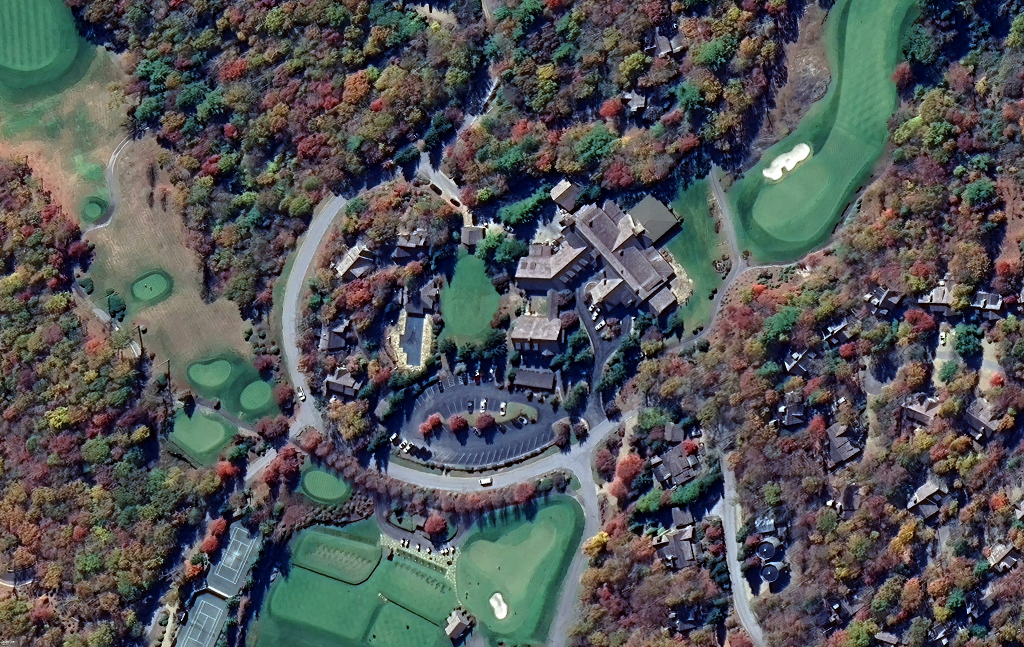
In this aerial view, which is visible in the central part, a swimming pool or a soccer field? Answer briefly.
swimming pool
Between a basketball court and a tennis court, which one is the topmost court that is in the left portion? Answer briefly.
tennis court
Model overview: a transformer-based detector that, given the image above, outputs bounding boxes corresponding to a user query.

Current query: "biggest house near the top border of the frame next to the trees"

[647,29,688,55]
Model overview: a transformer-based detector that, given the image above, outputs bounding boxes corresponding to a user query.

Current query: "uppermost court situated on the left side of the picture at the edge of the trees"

[207,520,259,597]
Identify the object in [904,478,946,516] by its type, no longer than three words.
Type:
house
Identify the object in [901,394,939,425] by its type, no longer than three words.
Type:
house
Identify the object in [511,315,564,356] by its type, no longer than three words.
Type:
building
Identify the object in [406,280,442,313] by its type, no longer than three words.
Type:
building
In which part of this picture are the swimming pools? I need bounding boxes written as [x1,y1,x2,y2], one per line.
[390,309,433,371]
